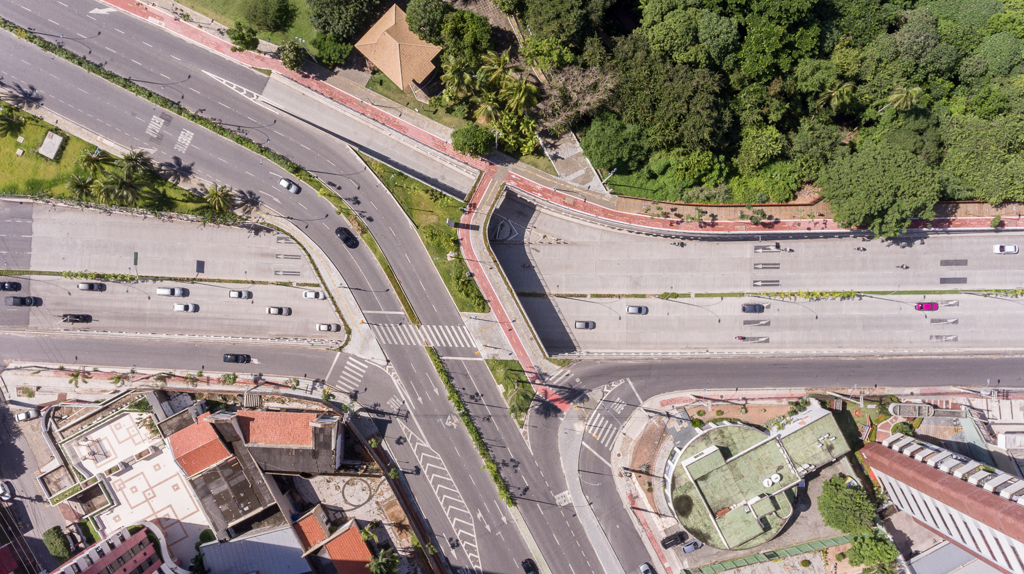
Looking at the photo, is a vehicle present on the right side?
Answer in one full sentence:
Yes, a vehicle is visible on the right side.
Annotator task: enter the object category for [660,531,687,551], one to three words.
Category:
car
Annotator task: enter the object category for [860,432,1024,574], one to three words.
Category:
building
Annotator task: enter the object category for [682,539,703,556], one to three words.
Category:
car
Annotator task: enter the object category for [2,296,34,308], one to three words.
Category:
vehicle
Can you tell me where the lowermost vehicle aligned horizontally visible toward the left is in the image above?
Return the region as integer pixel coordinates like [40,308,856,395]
[13,409,40,422]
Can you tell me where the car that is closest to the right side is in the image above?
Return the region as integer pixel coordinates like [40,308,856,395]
[992,243,1019,255]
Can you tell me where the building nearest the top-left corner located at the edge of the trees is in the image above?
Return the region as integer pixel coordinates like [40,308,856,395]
[354,3,442,89]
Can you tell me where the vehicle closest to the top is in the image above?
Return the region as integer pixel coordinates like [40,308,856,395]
[277,176,300,194]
